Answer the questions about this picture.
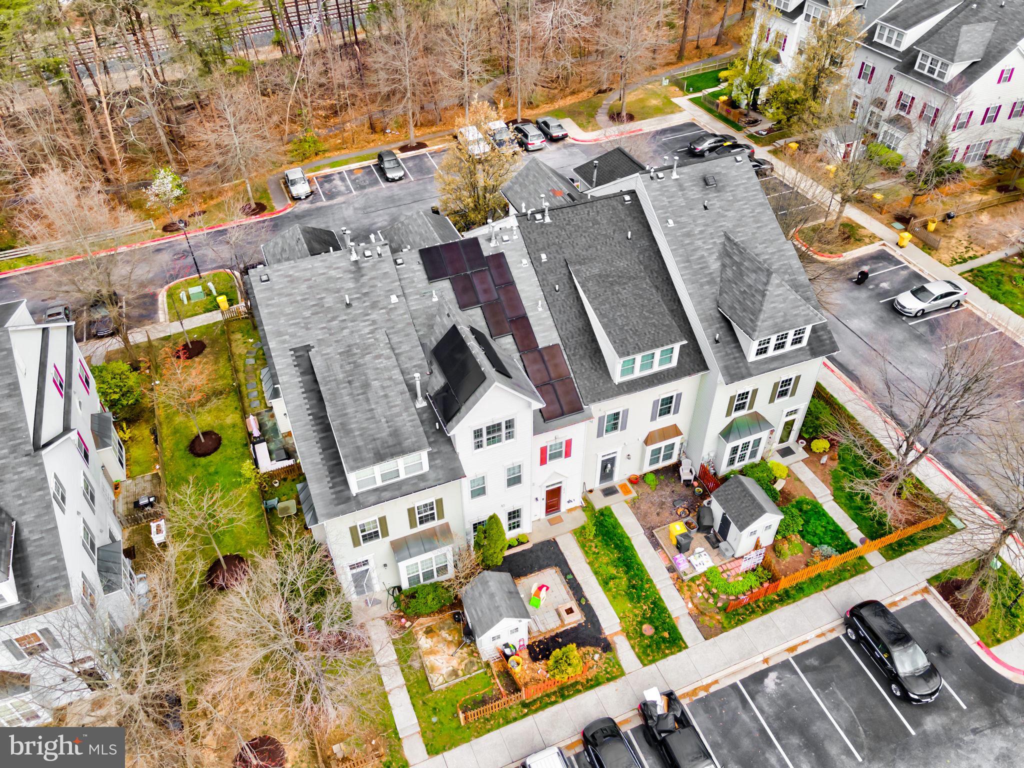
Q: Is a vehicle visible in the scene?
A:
Yes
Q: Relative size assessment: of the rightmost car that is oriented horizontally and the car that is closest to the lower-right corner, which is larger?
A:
the car that is closest to the lower-right corner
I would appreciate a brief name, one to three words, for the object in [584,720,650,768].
car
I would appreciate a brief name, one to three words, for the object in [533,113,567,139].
car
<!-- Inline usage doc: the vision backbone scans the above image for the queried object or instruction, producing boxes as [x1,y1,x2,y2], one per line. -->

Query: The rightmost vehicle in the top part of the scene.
[893,280,966,319]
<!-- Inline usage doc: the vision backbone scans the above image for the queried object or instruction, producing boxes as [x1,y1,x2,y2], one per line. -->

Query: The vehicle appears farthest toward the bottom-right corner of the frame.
[851,601,966,724]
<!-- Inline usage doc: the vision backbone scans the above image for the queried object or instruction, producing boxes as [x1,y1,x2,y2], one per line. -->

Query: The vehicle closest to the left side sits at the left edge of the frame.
[42,292,81,324]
